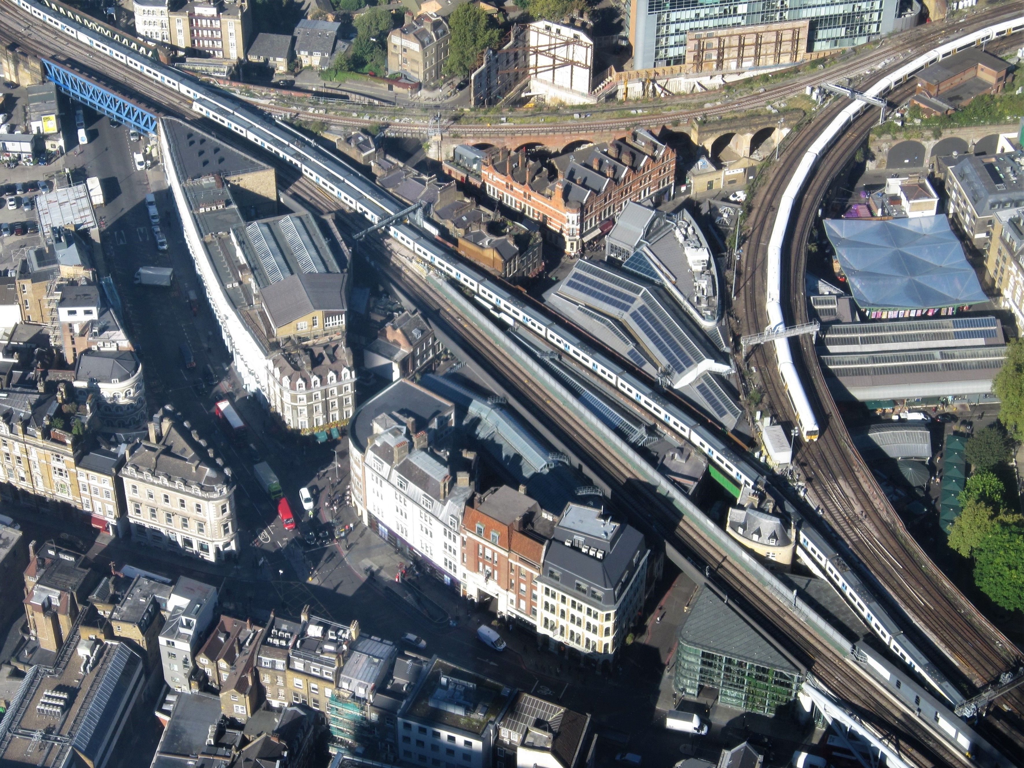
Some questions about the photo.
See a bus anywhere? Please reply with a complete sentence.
Yes, a bus is visible in the scene.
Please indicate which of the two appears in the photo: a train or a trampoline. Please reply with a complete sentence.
It is a train that can be seen here.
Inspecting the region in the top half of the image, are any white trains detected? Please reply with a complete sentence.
Yes, a white train is visible in the top half of the image.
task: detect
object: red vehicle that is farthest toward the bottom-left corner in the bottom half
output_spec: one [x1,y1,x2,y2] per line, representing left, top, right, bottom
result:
[278,493,294,522]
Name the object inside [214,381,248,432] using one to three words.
bus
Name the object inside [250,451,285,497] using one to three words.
truck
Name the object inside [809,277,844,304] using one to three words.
shed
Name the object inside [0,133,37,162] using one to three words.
building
